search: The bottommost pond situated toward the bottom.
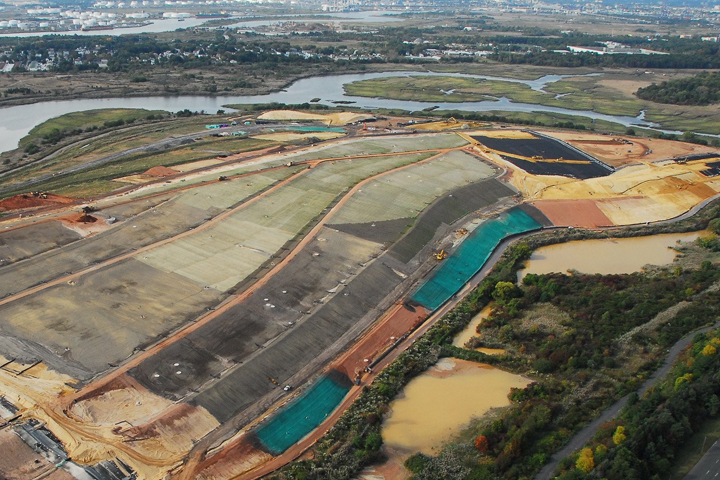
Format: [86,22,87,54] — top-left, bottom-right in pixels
[383,358,536,453]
